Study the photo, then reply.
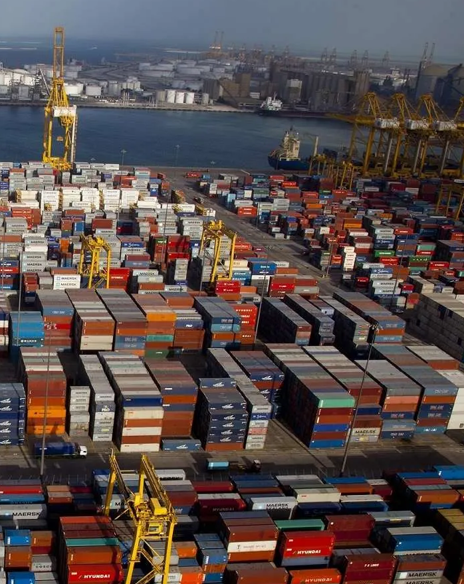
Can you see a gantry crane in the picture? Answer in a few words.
Yes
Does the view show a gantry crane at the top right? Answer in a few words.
Yes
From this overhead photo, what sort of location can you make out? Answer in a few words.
industrial area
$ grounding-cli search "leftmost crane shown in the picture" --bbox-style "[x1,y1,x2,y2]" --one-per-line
[41,28,81,167]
